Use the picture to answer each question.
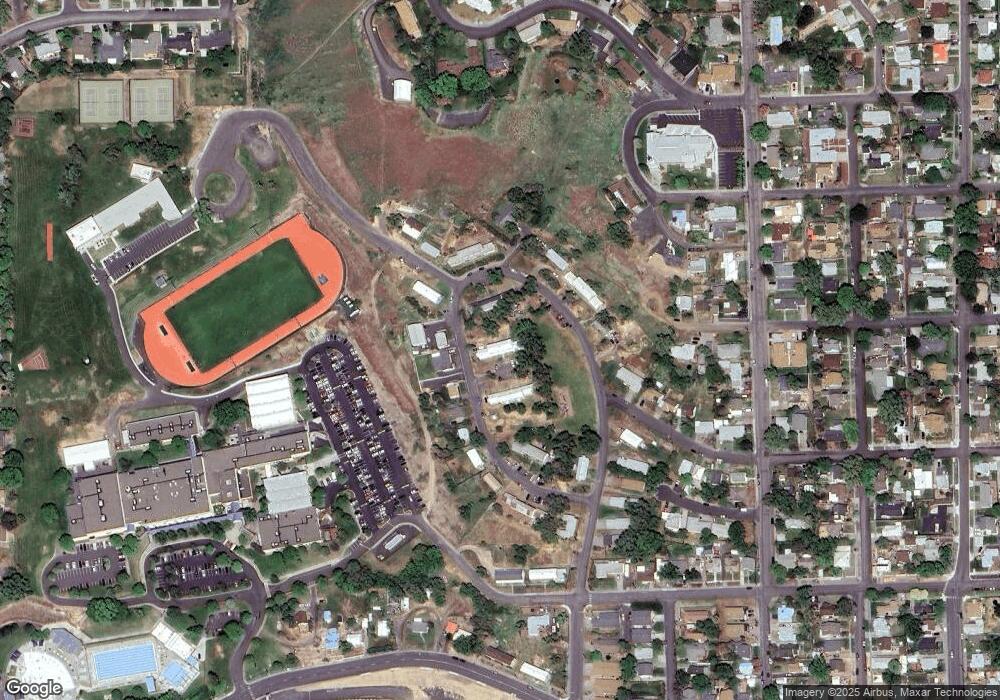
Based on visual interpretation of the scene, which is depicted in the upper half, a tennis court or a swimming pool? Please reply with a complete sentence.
You can see a tennis court in the upper half.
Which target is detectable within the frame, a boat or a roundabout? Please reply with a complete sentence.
Looking from above, you can make out a roundabout.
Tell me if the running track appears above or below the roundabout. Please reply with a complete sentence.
The running track is located below the roundabout in this view.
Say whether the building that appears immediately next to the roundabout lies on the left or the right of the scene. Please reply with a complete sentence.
It is on the left.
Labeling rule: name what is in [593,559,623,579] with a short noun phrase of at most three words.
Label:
house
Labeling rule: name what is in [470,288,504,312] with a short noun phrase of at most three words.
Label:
building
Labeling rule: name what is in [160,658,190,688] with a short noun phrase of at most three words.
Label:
swimming pool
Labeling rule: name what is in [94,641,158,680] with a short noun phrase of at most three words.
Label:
swimming pool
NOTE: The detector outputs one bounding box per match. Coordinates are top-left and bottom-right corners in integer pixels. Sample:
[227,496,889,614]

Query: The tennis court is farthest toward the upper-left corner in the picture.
[79,78,123,123]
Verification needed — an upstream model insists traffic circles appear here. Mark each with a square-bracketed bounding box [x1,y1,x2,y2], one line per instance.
[198,158,255,219]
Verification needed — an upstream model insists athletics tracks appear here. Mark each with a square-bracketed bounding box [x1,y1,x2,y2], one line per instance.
[140,213,345,387]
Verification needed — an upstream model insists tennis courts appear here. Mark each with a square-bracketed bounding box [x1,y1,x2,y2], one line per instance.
[130,78,173,122]
[79,78,123,123]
